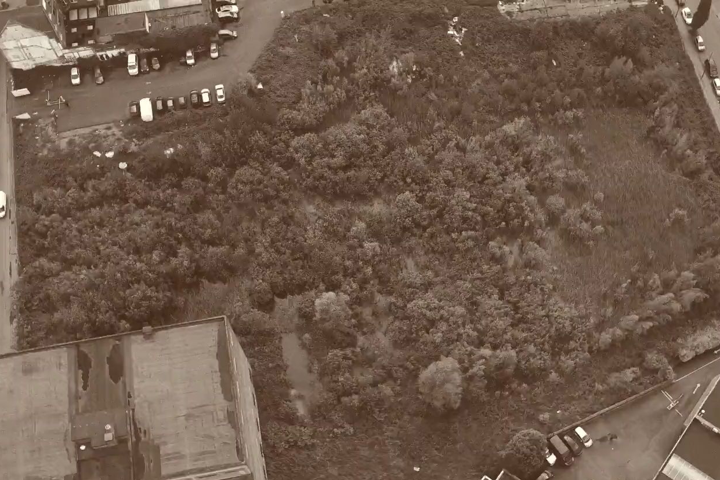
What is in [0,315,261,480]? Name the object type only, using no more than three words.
building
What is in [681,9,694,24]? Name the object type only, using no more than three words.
vehicle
